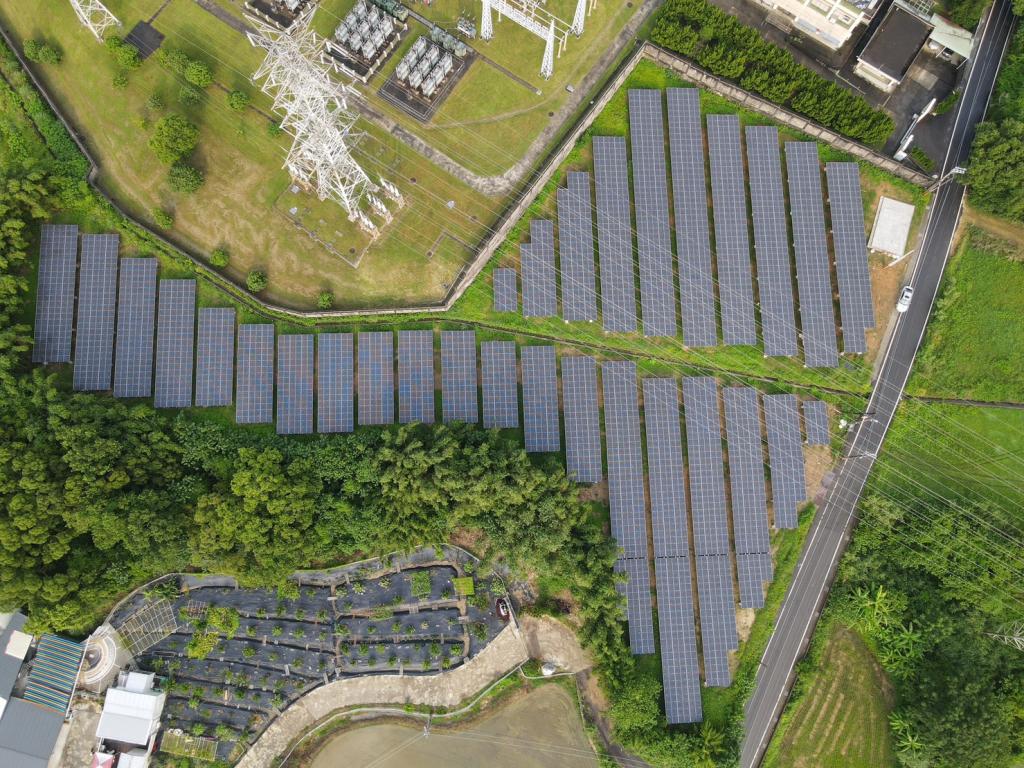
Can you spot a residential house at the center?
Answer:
No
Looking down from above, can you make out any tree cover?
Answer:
Yes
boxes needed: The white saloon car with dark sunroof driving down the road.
[892,286,911,312]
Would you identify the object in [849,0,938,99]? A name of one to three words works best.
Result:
house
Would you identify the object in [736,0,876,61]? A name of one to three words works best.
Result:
building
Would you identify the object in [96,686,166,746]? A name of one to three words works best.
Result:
house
